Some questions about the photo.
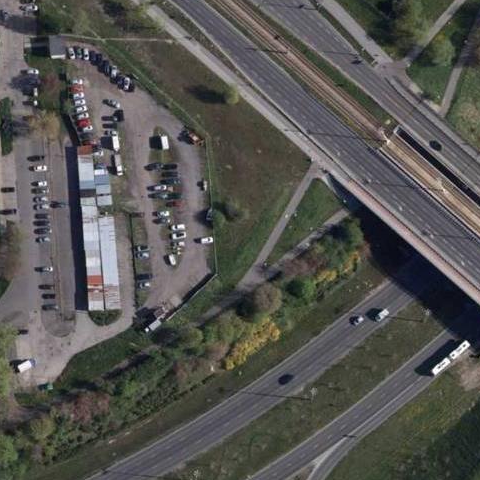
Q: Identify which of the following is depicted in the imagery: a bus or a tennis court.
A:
bus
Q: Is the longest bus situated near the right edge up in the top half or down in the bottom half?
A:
bottom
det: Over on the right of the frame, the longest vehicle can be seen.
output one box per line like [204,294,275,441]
[429,339,472,378]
